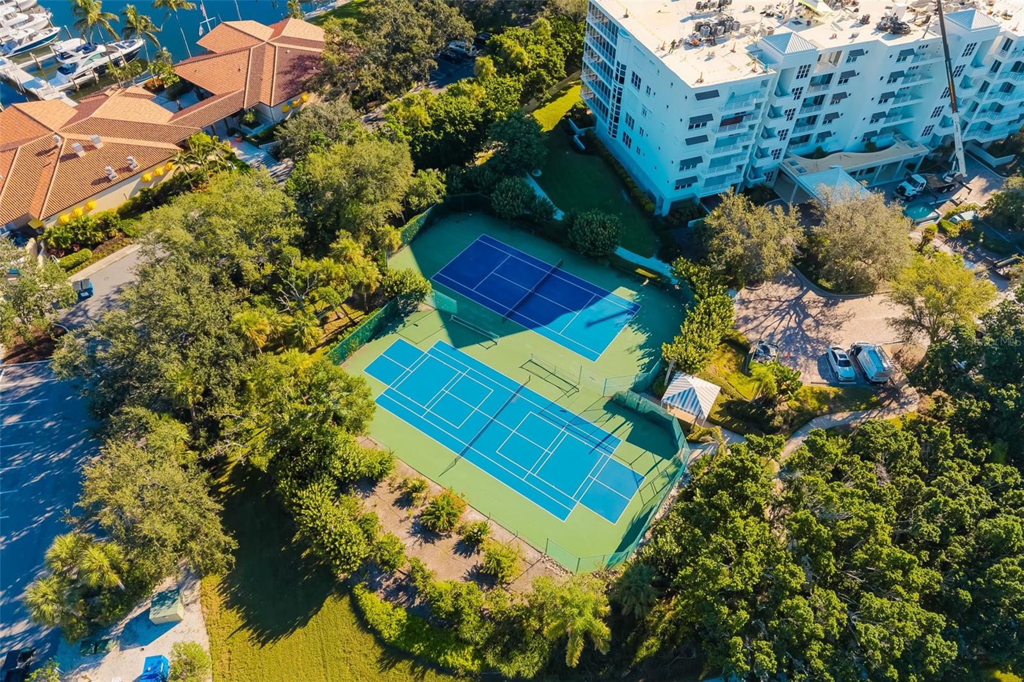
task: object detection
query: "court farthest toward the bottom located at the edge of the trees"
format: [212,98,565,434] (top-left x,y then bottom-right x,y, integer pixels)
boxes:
[332,305,683,573]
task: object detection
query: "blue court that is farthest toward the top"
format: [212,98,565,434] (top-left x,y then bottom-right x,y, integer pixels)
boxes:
[389,210,684,398]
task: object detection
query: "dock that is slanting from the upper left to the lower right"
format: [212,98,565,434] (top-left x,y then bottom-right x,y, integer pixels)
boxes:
[0,54,82,109]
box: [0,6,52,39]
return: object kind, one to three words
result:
boat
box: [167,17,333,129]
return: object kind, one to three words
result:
building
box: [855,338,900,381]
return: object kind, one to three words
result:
van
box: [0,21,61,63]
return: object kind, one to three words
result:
boat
